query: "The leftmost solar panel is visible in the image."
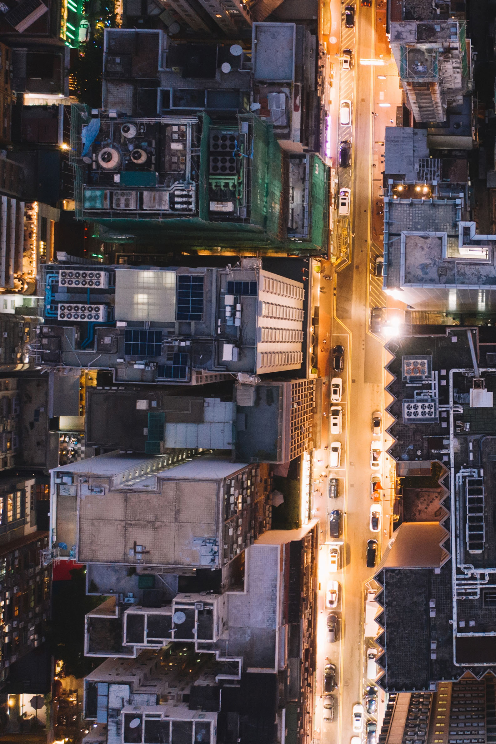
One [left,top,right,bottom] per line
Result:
[125,329,163,357]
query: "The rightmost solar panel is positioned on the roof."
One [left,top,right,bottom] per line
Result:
[227,281,256,294]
